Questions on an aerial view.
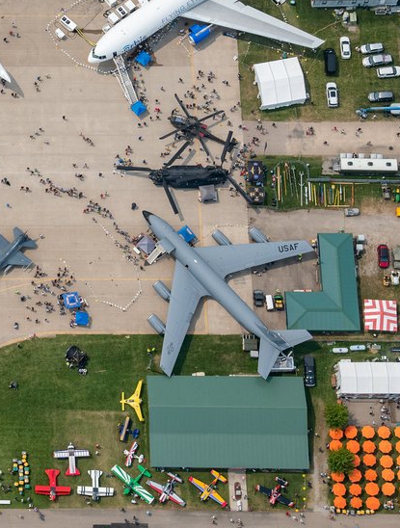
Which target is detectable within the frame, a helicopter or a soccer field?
helicopter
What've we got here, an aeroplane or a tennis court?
aeroplane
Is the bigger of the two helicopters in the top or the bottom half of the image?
top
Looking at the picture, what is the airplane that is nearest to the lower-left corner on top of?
grass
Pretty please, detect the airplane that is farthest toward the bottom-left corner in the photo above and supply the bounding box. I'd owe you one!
[34,469,72,502]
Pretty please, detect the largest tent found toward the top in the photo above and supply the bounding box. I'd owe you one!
[251,58,308,111]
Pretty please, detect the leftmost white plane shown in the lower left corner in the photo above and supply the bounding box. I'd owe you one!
[53,443,90,476]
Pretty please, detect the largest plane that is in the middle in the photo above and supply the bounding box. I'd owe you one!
[144,213,316,382]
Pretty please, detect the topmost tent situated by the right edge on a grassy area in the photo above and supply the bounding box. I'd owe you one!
[362,300,399,336]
